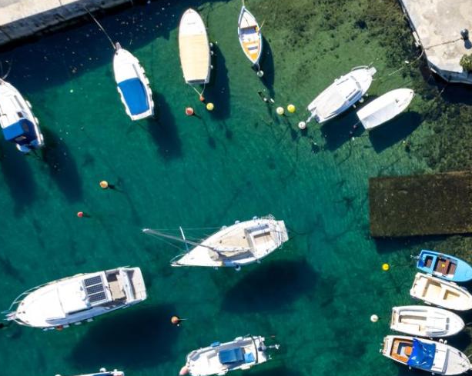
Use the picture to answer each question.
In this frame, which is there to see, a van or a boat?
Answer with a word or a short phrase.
boat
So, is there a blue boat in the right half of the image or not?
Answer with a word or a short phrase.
Yes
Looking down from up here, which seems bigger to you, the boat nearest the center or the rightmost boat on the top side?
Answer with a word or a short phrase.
the boat nearest the center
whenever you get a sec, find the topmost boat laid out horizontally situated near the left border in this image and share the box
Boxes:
[0,263,154,326]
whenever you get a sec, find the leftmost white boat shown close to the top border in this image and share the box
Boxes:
[82,5,157,124]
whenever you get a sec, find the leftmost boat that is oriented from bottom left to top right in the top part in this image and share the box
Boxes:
[304,62,380,130]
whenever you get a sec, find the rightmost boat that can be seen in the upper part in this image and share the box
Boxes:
[355,79,440,132]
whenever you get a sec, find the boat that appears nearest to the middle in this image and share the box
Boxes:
[141,217,296,271]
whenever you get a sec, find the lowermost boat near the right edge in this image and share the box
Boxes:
[381,332,472,375]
